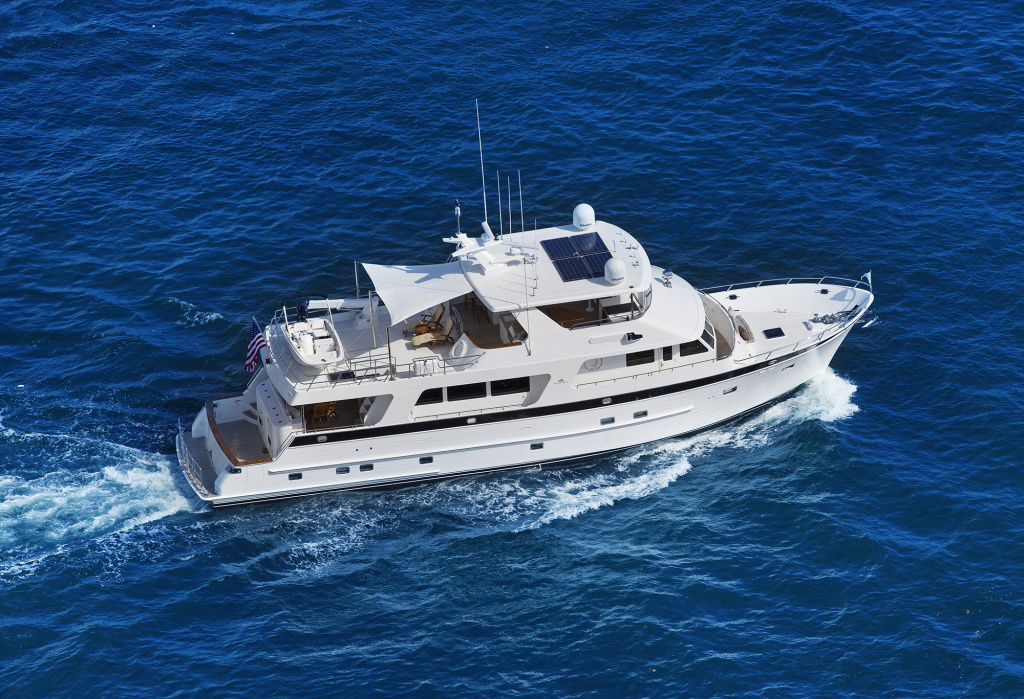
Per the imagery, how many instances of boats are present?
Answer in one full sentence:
There are 2 boats in the image.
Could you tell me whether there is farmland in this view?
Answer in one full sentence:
No, there is no farmland in the image.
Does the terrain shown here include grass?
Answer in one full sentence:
No, grass can't be seen anywhere here.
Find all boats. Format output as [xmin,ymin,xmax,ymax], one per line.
[177,99,882,510]
[281,289,343,382]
